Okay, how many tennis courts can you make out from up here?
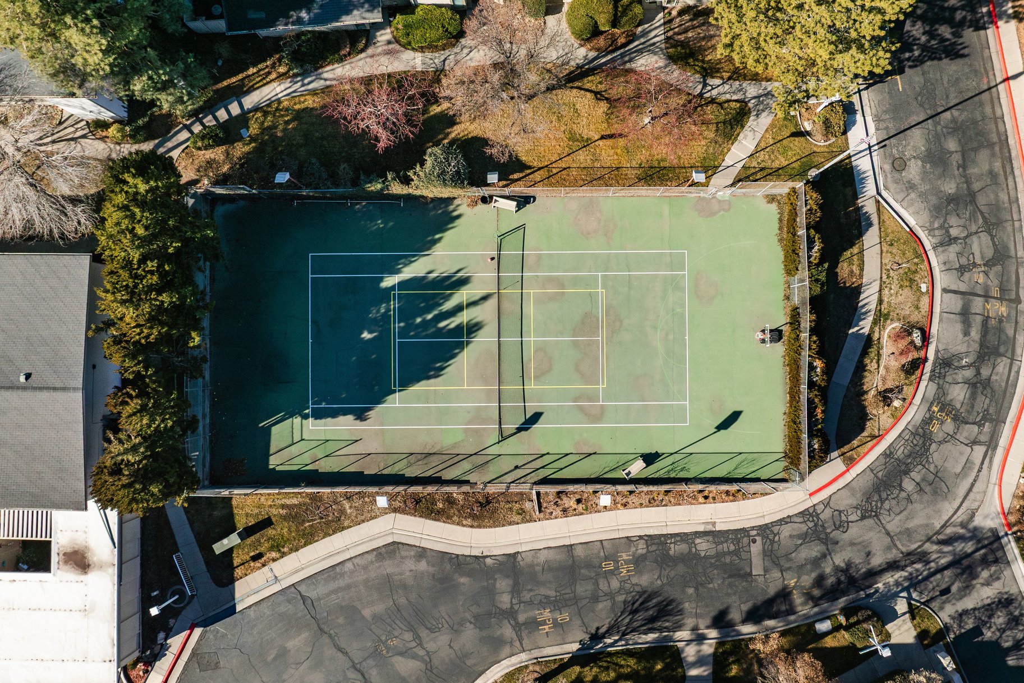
1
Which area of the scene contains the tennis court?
center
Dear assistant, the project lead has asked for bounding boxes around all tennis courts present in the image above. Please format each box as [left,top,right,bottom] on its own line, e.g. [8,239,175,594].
[210,193,789,485]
